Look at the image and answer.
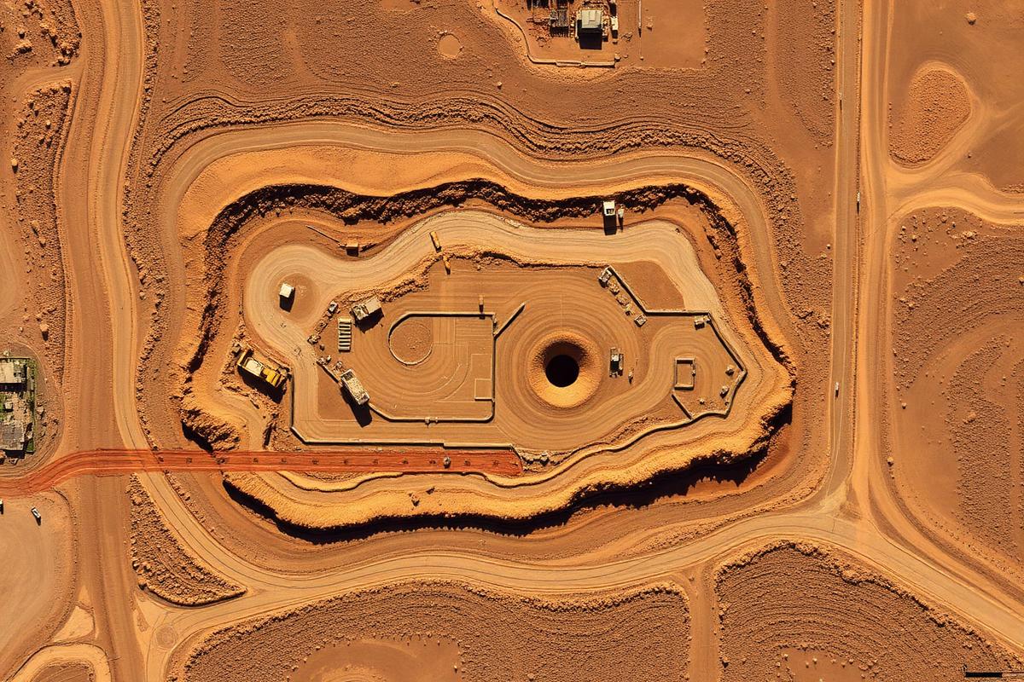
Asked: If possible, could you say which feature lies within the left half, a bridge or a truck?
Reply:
truck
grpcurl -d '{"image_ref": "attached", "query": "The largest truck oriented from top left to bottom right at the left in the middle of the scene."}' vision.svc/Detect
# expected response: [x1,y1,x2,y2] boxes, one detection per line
[231,347,287,391]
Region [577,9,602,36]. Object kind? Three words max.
shed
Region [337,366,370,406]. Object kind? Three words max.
truck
